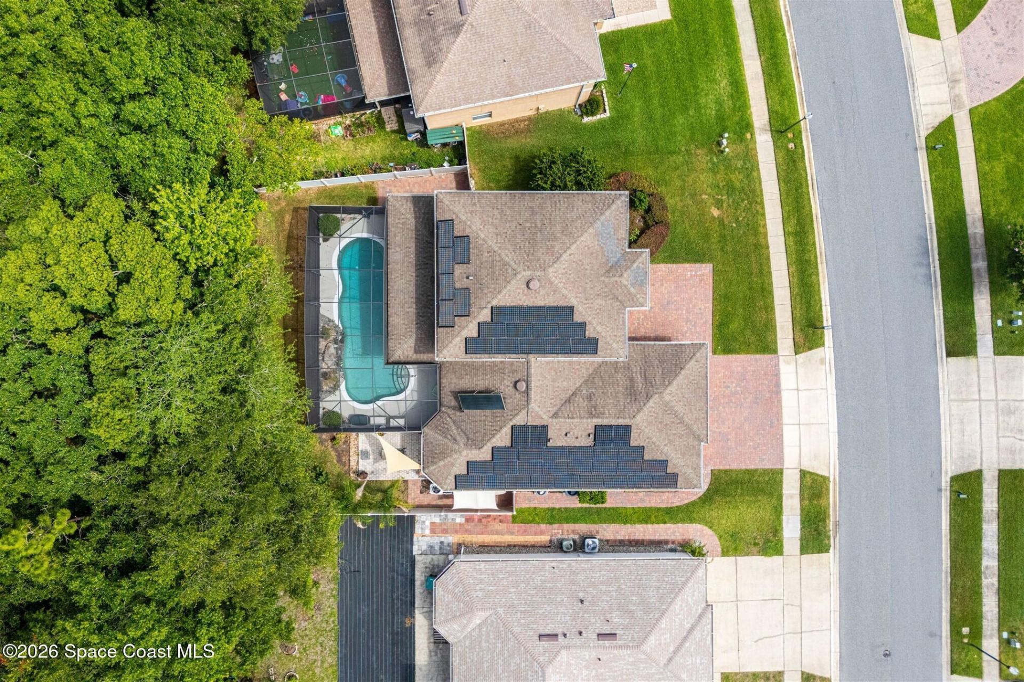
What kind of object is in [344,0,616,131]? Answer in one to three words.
house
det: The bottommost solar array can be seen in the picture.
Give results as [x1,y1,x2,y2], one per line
[455,426,681,490]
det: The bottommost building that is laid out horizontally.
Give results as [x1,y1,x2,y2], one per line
[432,554,715,682]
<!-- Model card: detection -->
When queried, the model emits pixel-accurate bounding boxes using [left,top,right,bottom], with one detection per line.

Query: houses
[432,554,715,682]
[385,190,710,493]
[344,0,616,131]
